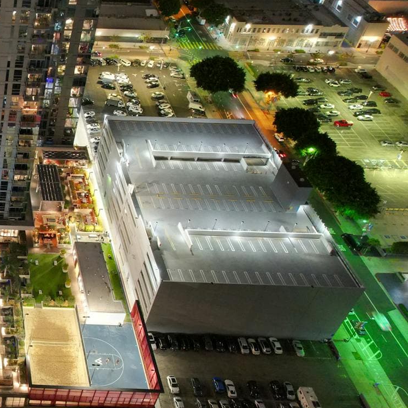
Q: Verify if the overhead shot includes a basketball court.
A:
Yes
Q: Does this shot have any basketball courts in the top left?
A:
No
